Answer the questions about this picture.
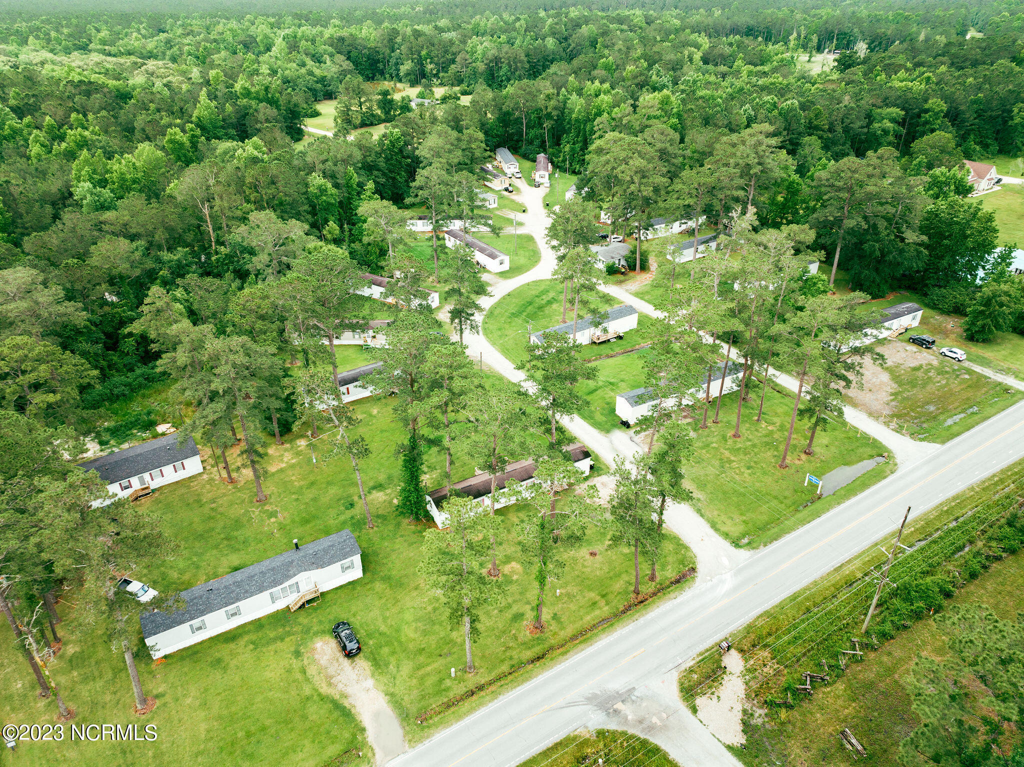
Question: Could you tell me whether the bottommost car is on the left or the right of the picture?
left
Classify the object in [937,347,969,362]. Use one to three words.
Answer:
car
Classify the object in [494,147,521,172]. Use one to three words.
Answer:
house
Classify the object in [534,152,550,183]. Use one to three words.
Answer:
house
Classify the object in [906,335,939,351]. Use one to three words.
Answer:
car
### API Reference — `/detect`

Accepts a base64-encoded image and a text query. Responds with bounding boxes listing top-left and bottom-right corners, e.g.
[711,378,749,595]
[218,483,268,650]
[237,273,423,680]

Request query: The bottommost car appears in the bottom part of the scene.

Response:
[333,620,362,661]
